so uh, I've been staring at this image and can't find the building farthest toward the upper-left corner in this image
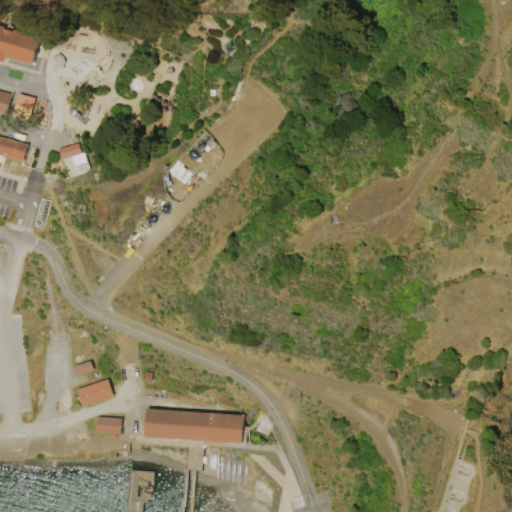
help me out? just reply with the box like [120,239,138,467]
[0,28,38,64]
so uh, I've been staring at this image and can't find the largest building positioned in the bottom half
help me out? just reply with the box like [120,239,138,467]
[146,408,245,442]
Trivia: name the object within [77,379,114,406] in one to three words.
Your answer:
house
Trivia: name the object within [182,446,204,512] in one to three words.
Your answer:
pier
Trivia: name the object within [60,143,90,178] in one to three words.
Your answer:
house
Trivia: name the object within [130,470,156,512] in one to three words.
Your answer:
pier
